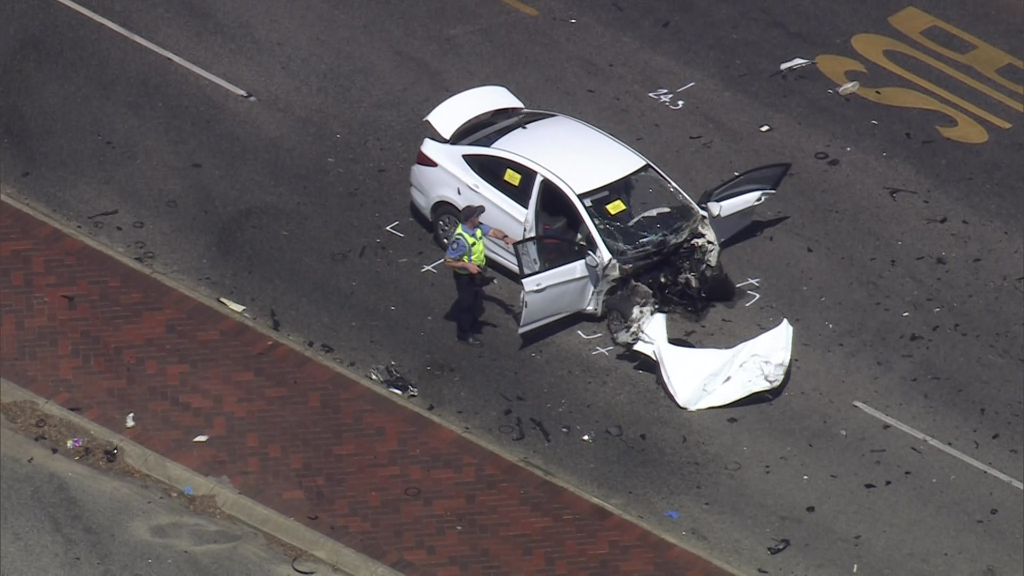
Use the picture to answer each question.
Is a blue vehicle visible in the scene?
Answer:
No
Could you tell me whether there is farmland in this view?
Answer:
No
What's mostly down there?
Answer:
paved ground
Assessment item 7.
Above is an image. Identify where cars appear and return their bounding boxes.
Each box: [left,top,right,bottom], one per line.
[410,84,789,351]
